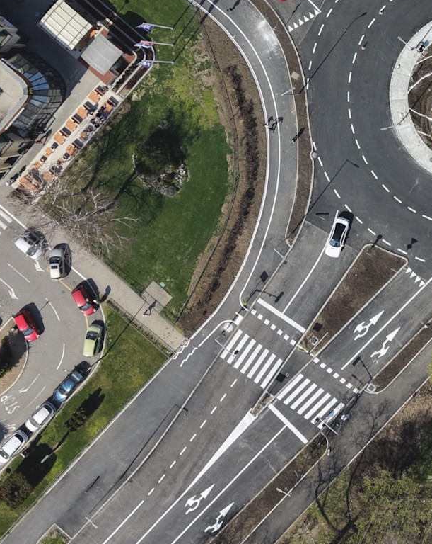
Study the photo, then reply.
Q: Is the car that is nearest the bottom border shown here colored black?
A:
No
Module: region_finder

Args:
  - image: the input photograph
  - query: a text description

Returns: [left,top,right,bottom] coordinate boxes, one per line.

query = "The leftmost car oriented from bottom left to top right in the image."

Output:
[0,426,31,463]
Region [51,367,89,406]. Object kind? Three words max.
car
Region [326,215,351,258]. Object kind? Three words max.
car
